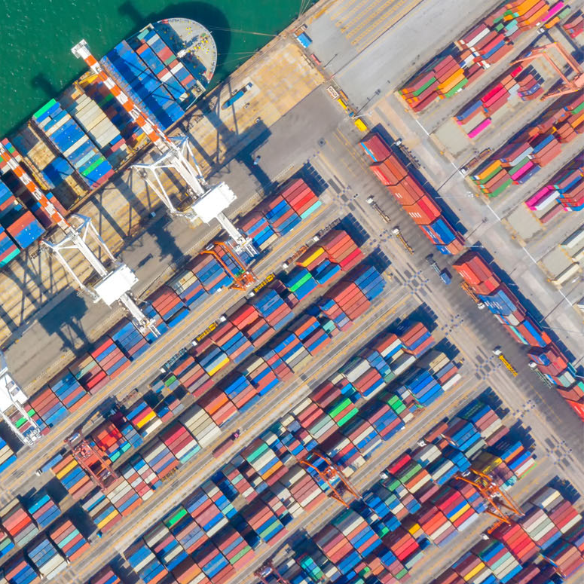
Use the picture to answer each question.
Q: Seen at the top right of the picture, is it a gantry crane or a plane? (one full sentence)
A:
Looking at the top right of the picture, you will find a gantry crane.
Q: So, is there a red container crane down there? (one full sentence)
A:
Yes, a red container crane appears in the view.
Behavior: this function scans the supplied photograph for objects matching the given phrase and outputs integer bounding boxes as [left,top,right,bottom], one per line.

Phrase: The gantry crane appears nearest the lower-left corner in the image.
[62,427,117,491]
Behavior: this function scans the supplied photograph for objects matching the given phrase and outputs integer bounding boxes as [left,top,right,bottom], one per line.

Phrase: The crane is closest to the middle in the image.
[199,240,259,292]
